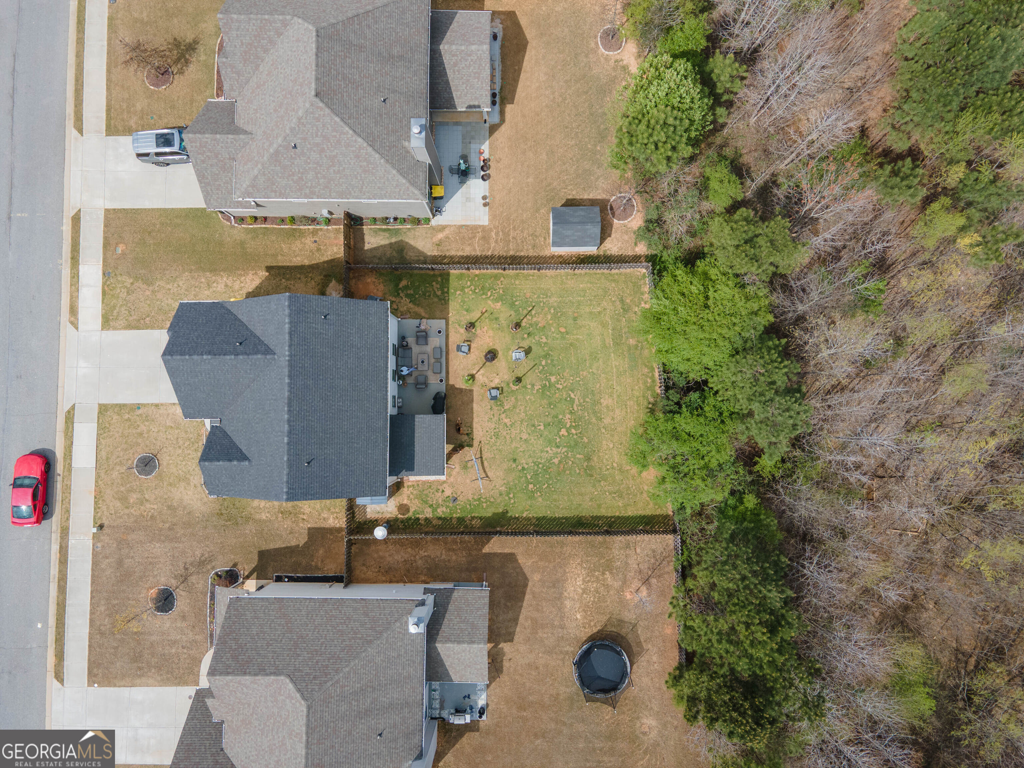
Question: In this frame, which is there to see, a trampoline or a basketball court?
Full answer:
I can see a trampoline in this picture.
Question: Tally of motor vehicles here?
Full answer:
My tally gives 2 motor vehicles in this view.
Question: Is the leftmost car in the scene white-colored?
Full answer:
No, the color of the leftmost car is red.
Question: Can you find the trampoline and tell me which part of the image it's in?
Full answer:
The trampoline is located in the bottom region of the scene.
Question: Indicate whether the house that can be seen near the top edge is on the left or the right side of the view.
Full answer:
The house that can be seen near the top edge is on the left side of the image.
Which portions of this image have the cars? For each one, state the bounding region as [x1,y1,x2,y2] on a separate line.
[9,454,51,527]
[130,124,193,166]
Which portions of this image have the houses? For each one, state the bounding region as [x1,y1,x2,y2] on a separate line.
[173,576,490,768]
[185,0,491,224]
[161,293,448,502]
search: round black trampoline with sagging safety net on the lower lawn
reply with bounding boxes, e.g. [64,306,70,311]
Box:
[573,634,634,712]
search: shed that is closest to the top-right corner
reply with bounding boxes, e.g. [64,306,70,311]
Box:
[551,206,602,253]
